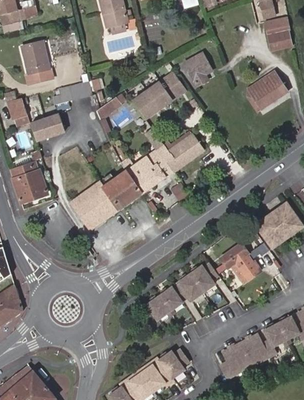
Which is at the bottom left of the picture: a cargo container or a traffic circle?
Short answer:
traffic circle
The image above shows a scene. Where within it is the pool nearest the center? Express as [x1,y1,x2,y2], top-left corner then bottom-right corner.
[110,110,134,128]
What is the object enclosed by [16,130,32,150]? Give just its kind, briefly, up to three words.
swimming pool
